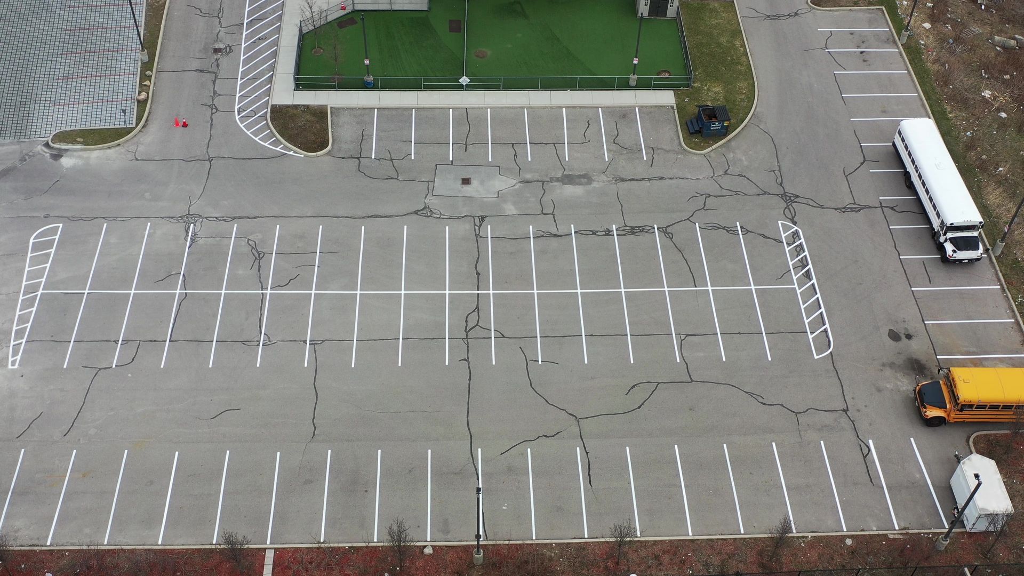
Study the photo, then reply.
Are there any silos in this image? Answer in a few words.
No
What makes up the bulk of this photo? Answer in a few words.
paved ground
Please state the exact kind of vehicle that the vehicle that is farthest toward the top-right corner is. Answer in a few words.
bus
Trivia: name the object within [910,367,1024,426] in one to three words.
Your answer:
bus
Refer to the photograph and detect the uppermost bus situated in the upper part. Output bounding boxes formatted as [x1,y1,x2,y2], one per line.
[891,119,994,264]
